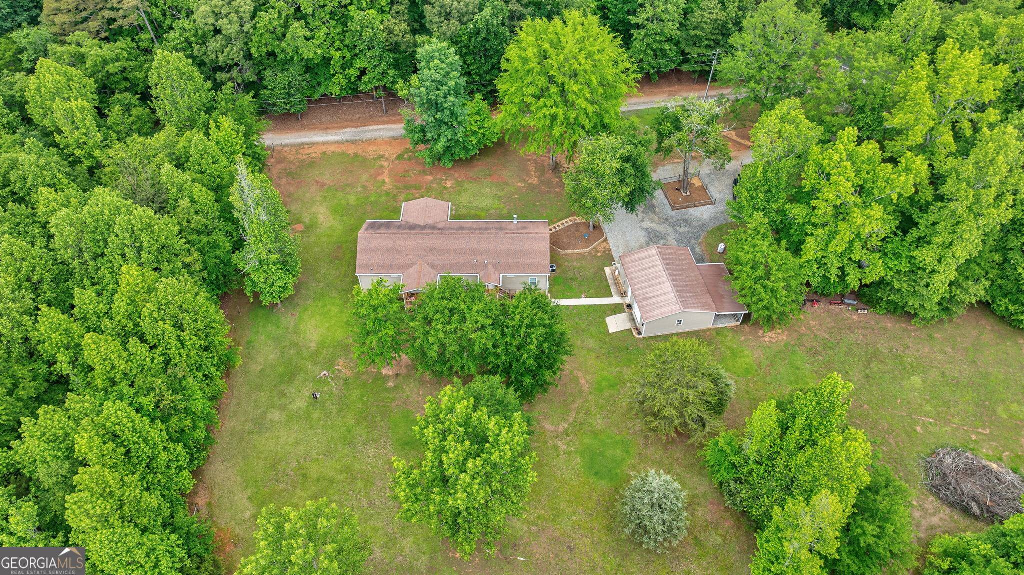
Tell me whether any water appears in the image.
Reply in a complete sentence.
No, water can't be seen anywhere here.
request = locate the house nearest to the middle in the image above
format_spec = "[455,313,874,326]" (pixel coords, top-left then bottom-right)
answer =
[356,197,550,310]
